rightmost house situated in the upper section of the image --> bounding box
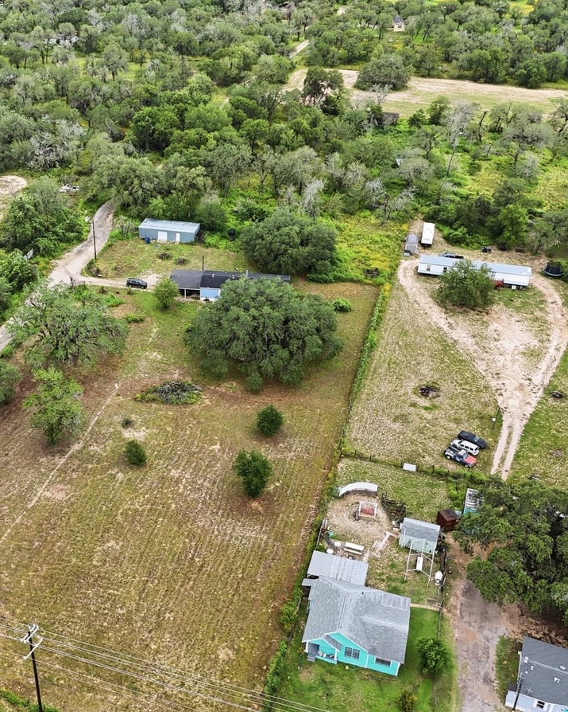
[416,255,531,289]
